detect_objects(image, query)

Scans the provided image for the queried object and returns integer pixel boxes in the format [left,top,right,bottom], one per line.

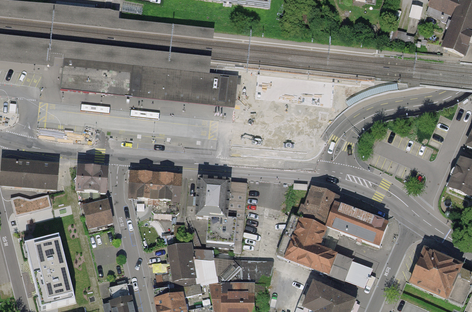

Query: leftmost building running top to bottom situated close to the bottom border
[24,232,76,312]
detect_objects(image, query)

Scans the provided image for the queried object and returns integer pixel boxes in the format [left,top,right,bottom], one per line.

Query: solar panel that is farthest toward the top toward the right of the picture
[332,218,375,242]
